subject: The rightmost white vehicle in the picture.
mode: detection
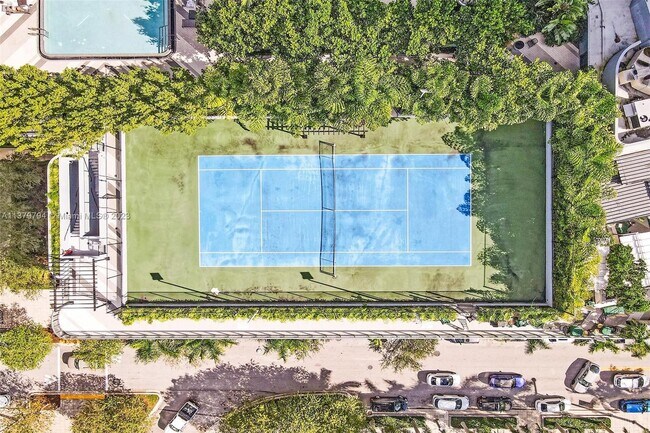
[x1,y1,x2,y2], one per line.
[611,373,648,390]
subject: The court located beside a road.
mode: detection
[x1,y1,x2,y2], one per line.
[126,119,547,300]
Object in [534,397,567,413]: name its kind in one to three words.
car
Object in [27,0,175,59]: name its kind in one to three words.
swimming pool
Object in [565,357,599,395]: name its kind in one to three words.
van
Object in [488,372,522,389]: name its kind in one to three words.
car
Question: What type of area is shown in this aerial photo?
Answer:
sports ground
